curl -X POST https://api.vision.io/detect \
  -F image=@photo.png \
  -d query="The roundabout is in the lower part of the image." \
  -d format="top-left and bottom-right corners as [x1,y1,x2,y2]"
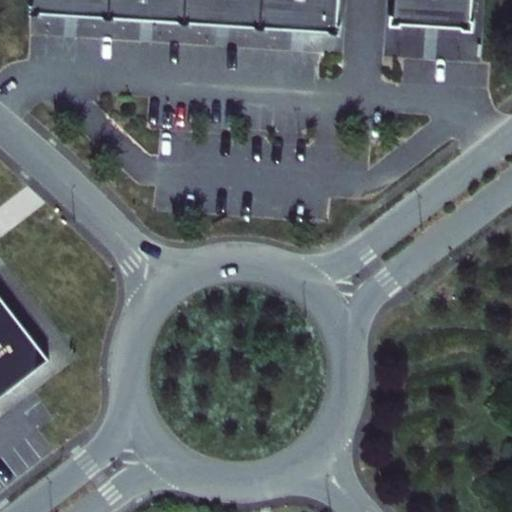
[113,245,365,497]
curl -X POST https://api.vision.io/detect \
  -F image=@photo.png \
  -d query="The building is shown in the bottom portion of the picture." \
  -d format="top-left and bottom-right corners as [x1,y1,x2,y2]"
[0,296,48,396]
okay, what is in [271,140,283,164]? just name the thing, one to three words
vehicle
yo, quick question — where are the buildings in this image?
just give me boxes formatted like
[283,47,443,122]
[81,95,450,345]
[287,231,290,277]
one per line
[0,296,48,396]
[388,0,476,34]
[30,0,344,34]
